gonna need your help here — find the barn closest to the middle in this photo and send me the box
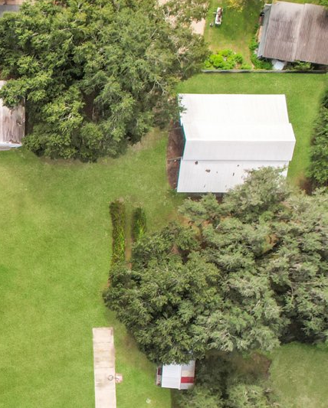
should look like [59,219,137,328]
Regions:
[168,95,296,193]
